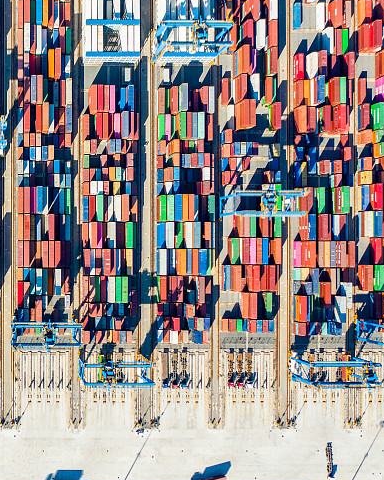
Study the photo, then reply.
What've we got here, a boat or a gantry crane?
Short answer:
gantry crane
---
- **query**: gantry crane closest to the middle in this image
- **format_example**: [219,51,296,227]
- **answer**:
[215,184,301,224]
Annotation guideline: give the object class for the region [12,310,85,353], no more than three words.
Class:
container crane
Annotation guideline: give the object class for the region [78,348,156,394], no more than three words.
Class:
container crane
